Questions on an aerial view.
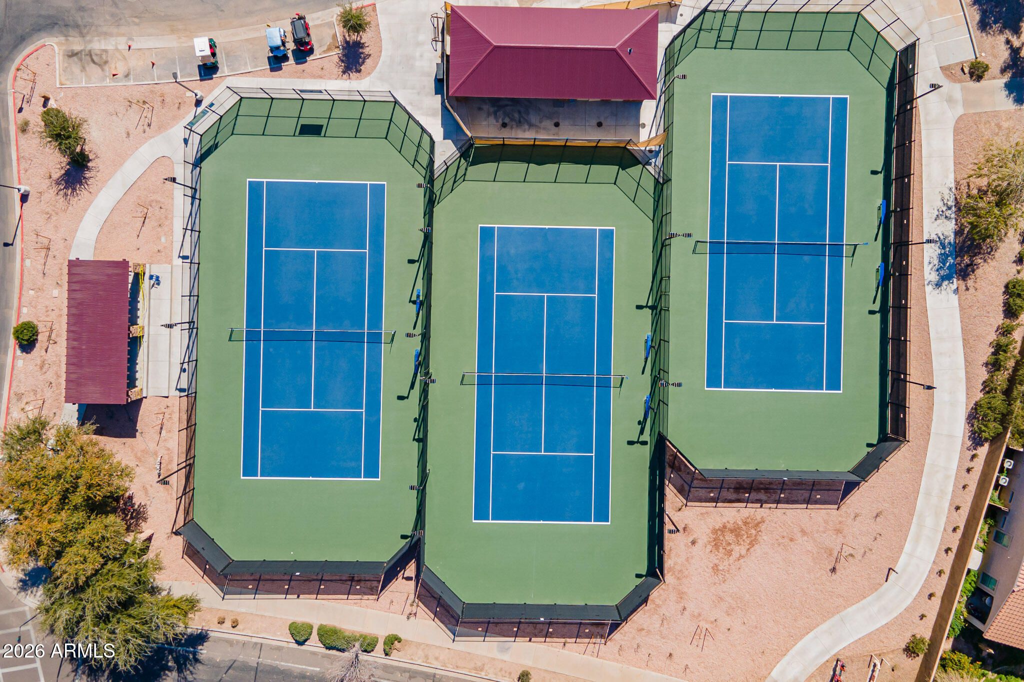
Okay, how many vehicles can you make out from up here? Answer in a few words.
3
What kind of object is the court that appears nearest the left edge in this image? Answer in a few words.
tennis court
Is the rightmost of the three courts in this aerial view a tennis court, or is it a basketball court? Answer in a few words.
tennis court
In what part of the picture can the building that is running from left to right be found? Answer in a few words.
top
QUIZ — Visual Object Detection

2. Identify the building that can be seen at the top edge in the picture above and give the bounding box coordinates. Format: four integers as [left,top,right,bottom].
[449,5,660,105]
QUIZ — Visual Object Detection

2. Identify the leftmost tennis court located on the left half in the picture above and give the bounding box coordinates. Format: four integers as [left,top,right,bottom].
[193,98,435,561]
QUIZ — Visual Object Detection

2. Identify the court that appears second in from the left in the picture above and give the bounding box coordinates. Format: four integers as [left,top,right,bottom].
[425,145,662,605]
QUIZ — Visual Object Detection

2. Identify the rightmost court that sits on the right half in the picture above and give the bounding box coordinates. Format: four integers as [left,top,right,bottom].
[659,12,897,471]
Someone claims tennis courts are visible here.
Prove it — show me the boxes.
[425,145,662,605]
[659,12,897,471]
[193,98,435,561]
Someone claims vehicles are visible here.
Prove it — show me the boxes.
[290,13,315,51]
[266,24,291,60]
[195,32,222,68]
